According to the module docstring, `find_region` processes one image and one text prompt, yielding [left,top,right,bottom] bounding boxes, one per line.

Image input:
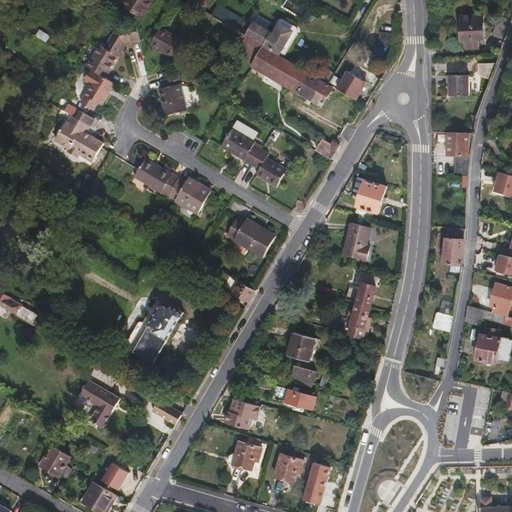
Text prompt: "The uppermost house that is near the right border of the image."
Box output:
[458,18,487,52]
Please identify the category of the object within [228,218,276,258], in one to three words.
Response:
house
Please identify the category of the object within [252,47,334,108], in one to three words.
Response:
house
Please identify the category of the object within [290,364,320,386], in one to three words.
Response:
building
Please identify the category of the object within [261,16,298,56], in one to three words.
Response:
building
